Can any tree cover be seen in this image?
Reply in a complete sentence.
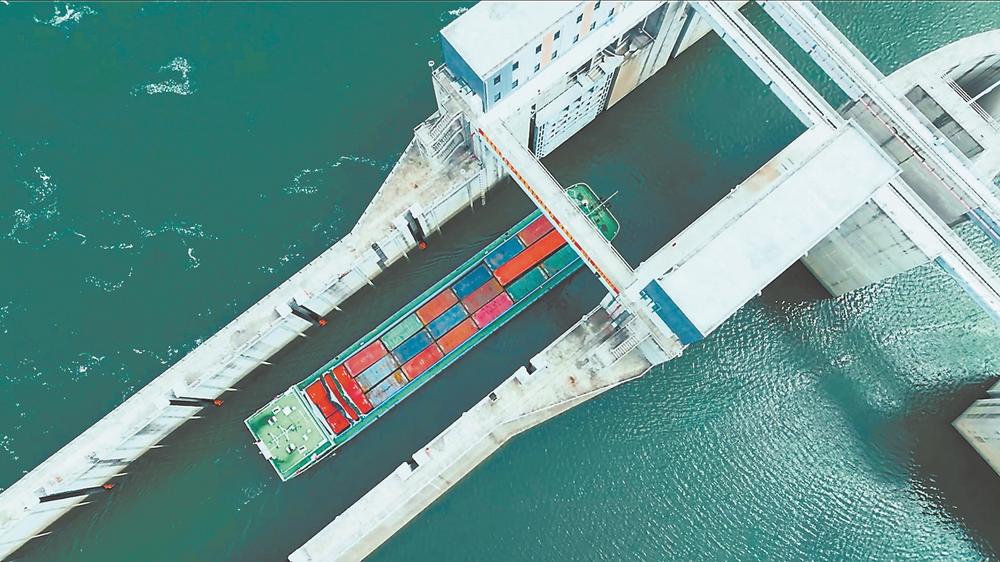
No, there is no tree cover in the image.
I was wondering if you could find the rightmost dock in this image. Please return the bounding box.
[951,378,1000,475]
